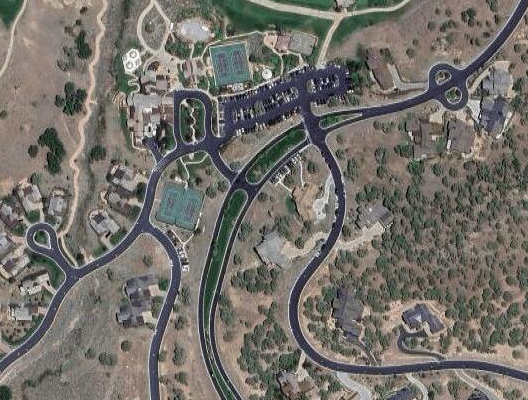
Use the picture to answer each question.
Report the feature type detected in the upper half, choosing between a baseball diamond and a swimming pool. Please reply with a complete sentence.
What appears in the upper half is a swimming pool.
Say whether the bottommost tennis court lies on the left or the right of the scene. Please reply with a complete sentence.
The bottommost tennis court is on the left side of the image.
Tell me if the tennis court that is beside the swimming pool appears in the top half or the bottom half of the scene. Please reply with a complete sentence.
The top half of the photo is where the tennis court that is beside the swimming pool is.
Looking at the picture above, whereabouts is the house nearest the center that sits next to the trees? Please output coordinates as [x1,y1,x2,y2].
[256,230,292,268]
